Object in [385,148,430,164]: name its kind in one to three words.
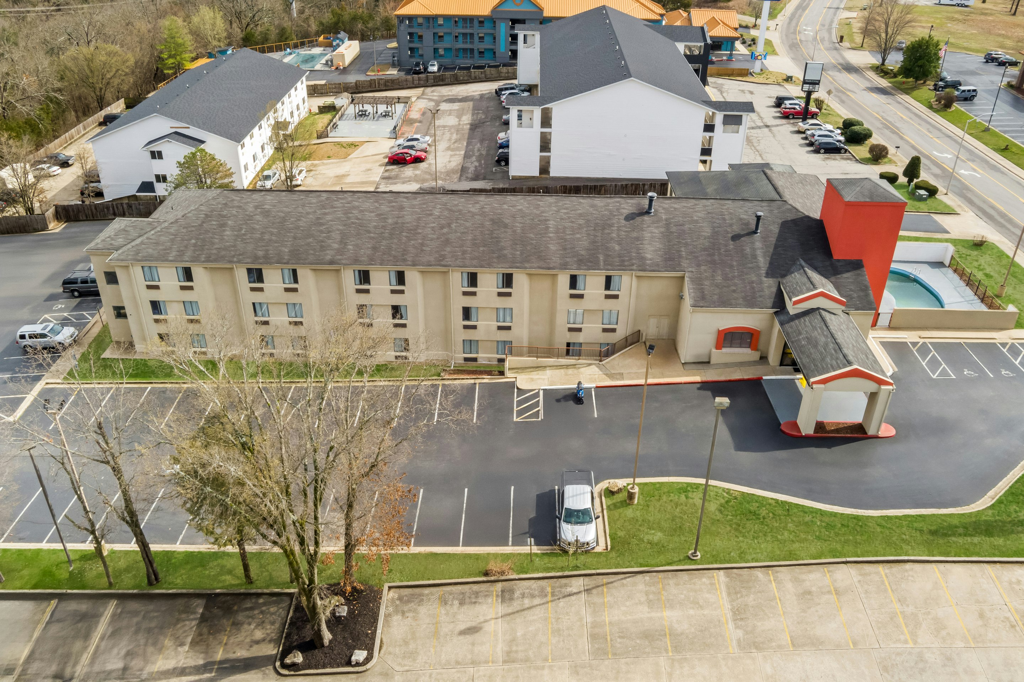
car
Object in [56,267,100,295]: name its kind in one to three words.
car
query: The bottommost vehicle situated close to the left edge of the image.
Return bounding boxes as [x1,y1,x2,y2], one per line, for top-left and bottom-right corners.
[9,316,86,349]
